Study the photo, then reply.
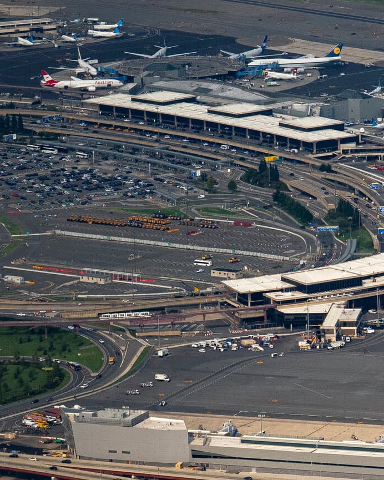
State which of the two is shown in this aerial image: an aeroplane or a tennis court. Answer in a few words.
aeroplane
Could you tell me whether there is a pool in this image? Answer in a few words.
No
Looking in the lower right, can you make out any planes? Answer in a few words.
No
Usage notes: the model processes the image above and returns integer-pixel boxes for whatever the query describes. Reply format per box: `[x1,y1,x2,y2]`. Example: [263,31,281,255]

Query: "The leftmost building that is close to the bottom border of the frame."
[60,404,190,466]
